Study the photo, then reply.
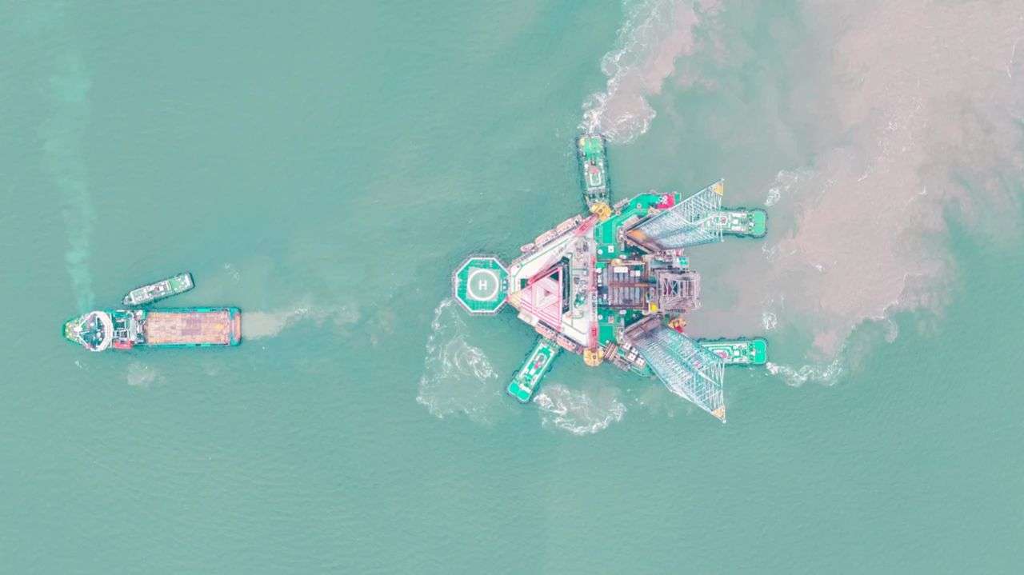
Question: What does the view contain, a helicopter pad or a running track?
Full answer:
The image shows a helicopter pad.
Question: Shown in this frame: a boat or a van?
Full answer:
This aerial view contains a boat.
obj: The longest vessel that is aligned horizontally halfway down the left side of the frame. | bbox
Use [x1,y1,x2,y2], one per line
[63,305,243,351]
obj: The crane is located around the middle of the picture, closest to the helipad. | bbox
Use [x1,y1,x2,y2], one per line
[527,199,611,284]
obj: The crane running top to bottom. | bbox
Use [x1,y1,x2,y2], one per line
[583,248,603,368]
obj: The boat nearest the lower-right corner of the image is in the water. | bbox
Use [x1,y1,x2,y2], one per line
[690,336,769,370]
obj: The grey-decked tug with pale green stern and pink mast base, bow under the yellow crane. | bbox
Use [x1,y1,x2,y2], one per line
[578,132,612,212]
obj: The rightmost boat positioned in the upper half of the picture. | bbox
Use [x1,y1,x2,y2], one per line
[688,206,768,238]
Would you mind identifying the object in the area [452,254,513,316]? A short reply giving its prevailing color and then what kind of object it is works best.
white helipad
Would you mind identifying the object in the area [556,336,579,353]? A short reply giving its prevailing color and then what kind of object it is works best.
white boat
